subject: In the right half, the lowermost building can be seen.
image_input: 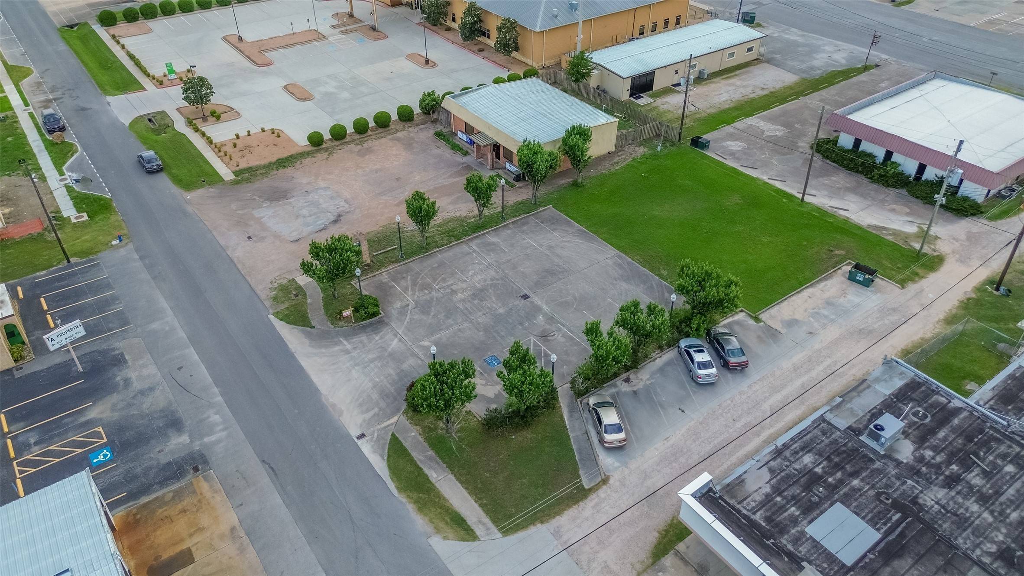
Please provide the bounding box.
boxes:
[673,355,1024,576]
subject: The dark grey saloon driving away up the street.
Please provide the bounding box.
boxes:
[136,149,163,175]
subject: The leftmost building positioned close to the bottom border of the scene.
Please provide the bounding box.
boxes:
[0,470,131,576]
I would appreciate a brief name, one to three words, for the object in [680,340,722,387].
car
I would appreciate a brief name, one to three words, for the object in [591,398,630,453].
car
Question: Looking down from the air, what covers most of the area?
paved ground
